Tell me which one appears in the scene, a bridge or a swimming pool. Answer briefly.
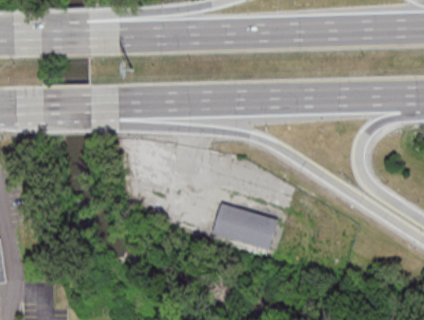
bridge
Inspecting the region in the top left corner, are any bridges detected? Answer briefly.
Yes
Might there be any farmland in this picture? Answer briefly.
No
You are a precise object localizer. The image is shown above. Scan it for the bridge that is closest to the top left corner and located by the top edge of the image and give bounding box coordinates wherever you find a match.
[42,6,92,58]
